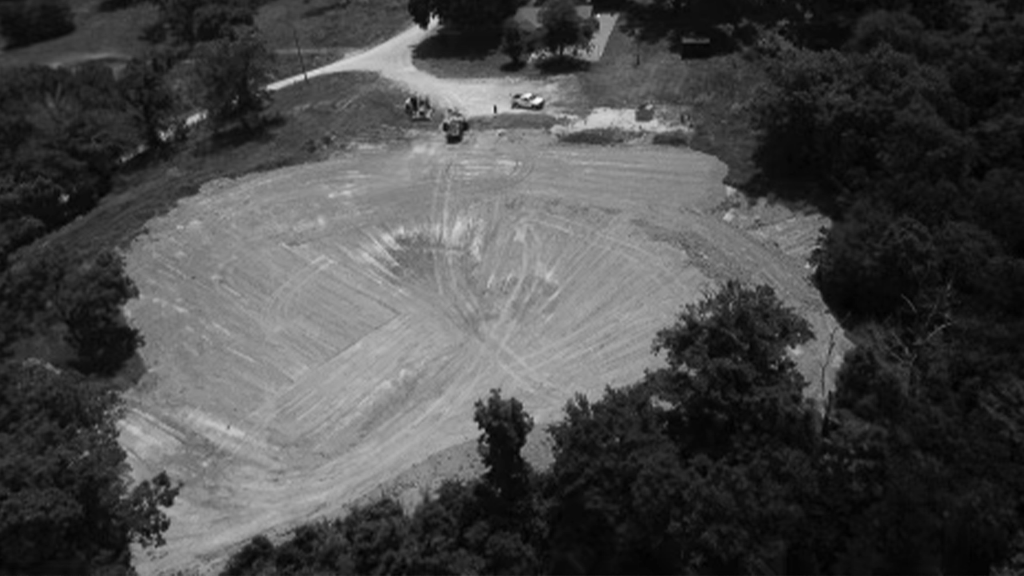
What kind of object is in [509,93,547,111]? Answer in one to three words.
vehicle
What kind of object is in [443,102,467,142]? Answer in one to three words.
work vehicle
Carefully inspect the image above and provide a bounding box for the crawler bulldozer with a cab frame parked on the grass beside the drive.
[406,87,435,126]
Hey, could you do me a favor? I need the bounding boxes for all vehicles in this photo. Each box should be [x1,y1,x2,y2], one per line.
[443,102,467,142]
[406,87,435,126]
[509,93,547,111]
